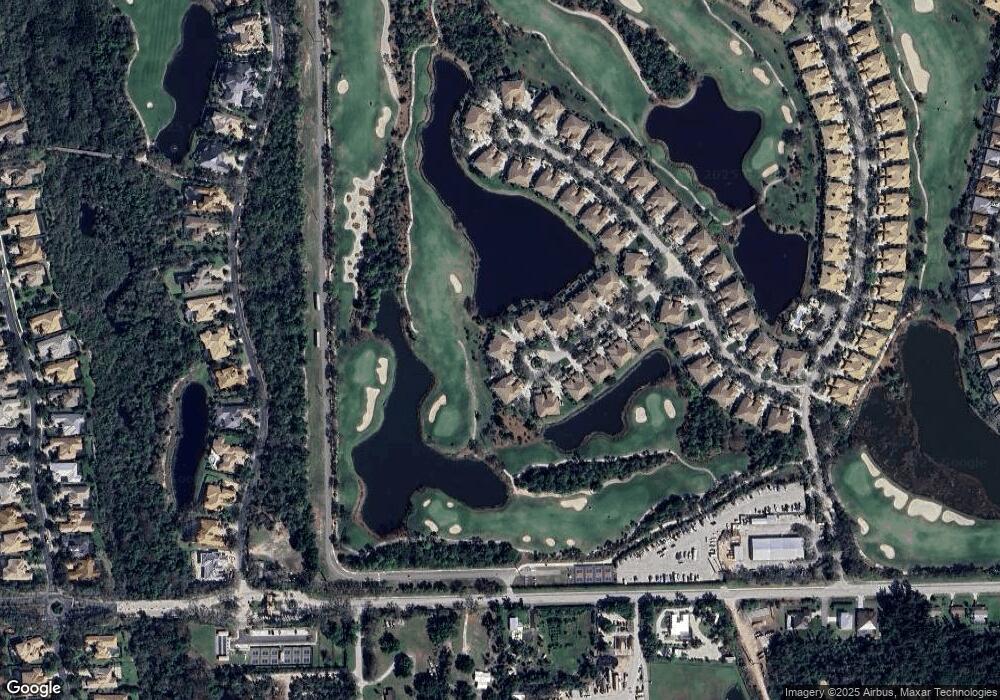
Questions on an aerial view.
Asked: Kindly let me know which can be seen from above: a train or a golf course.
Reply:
golf course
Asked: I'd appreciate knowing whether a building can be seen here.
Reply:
Yes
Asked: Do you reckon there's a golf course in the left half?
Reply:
Yes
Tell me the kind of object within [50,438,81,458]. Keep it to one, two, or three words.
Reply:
house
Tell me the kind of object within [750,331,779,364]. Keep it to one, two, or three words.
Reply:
house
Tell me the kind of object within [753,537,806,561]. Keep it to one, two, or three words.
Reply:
building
